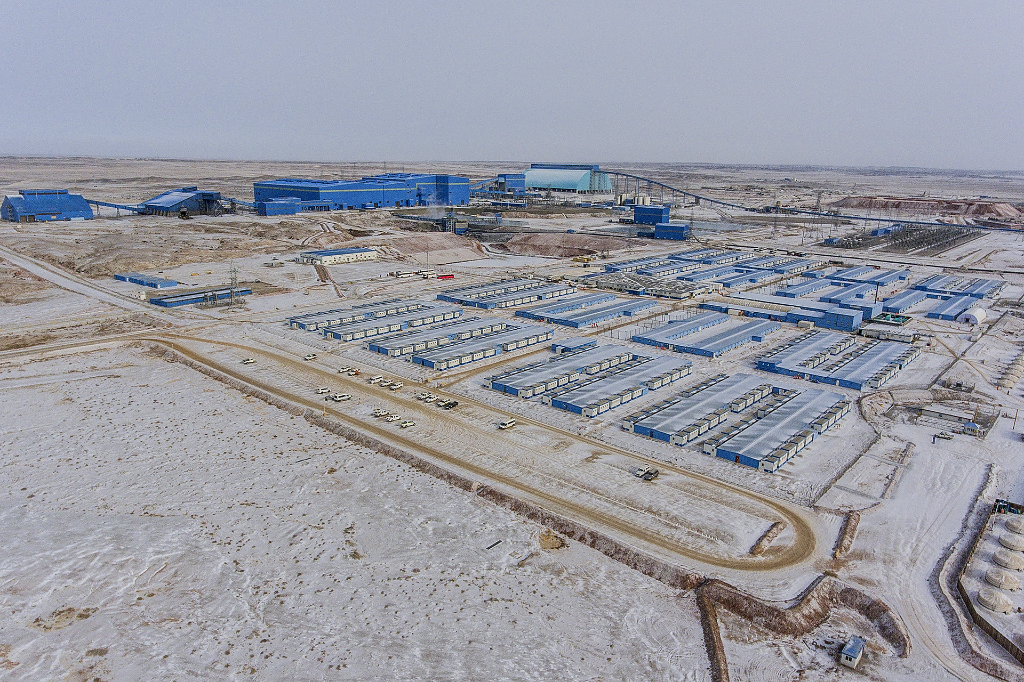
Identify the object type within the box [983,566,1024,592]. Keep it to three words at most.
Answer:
tent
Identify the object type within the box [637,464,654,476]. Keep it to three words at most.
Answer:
vehicle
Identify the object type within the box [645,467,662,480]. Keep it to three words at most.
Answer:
vehicle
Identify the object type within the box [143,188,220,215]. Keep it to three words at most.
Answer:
shed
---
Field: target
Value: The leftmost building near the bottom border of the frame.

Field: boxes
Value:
[840,632,867,668]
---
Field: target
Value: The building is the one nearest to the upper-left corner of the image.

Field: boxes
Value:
[0,191,93,221]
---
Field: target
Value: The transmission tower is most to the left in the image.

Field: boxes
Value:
[227,257,243,310]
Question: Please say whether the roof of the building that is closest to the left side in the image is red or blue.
blue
